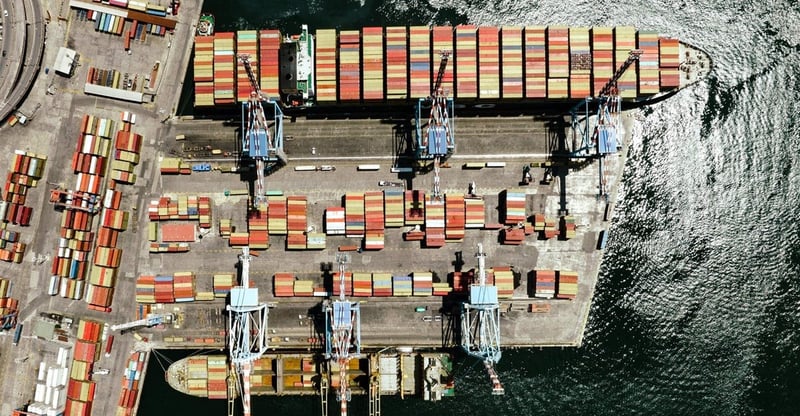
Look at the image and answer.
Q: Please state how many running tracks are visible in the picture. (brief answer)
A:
0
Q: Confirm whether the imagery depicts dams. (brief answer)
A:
No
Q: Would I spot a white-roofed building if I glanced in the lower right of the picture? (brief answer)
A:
No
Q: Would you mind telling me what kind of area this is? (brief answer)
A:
port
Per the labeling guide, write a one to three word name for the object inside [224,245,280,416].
container crane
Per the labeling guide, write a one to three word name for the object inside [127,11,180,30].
building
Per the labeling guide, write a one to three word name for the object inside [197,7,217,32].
boat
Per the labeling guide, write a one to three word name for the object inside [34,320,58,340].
shed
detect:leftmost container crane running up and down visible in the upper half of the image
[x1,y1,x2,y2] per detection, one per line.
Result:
[231,47,292,201]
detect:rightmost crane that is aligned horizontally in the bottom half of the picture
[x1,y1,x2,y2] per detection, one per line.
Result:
[110,310,175,332]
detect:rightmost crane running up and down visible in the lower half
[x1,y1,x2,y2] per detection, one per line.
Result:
[455,242,504,403]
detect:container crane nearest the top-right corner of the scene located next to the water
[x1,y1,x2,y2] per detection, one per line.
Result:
[570,49,644,203]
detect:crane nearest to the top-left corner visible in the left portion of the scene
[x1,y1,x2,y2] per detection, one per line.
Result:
[48,192,108,216]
